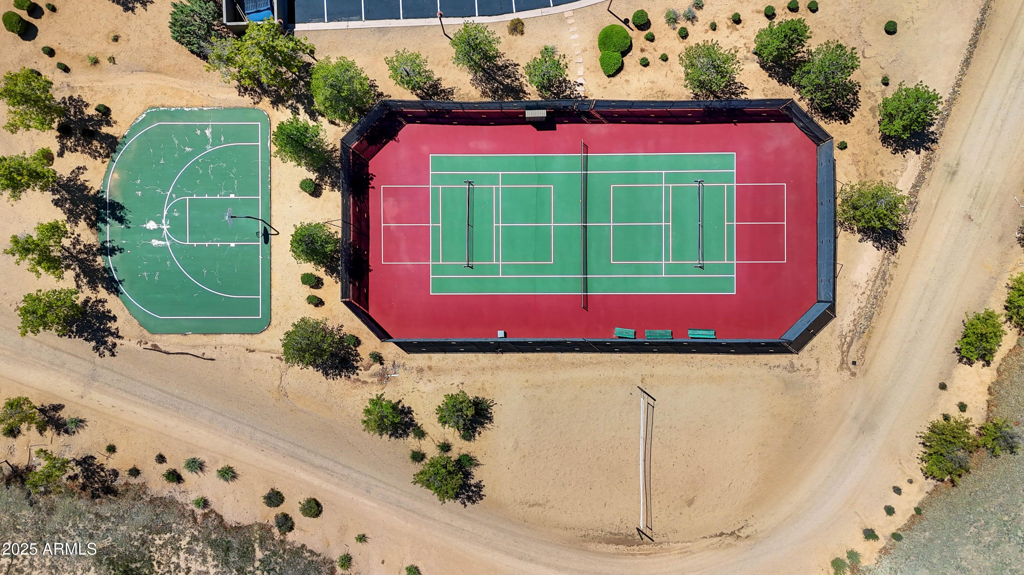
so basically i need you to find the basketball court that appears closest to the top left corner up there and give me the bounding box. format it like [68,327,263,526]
[97,107,271,333]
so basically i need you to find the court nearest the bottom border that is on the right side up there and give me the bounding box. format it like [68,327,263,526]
[483,367,828,528]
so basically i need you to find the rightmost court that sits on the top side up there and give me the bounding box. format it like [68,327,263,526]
[349,108,817,340]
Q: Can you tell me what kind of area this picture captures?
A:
sports ground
